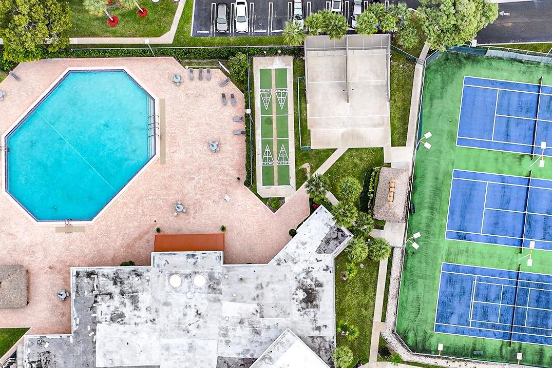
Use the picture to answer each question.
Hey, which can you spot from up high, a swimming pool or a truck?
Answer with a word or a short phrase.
swimming pool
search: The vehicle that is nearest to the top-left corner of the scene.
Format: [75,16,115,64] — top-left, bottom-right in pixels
[215,1,229,34]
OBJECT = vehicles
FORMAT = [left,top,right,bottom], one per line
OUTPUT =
[233,0,248,32]
[349,0,363,29]
[215,1,229,34]
[329,0,343,15]
[291,0,305,28]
